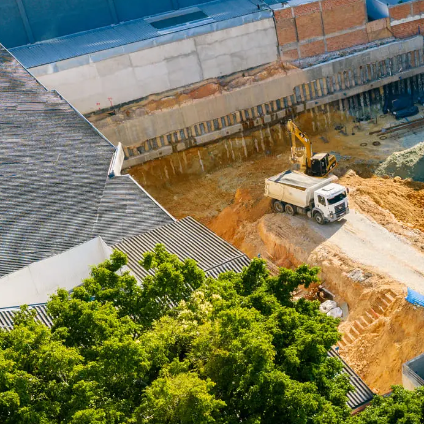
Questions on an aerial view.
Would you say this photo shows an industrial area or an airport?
industrial area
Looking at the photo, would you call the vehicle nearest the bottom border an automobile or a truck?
truck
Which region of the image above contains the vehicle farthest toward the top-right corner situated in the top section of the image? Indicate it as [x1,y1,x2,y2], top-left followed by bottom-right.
[283,120,347,176]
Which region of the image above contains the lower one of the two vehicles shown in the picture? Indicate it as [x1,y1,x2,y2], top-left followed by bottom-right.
[257,167,349,224]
